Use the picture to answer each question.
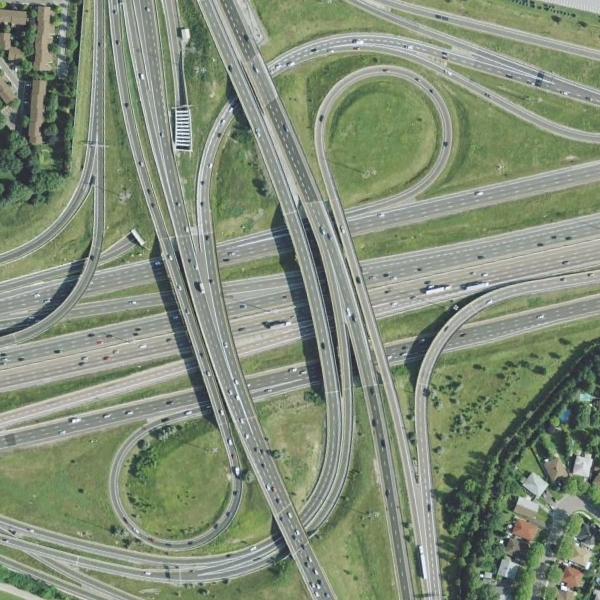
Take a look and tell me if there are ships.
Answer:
No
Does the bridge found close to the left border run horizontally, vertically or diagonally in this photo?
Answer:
diagonally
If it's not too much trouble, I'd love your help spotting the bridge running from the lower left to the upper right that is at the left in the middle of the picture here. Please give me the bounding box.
[12,244,102,345]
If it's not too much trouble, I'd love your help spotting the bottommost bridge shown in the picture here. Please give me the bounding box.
[271,500,312,557]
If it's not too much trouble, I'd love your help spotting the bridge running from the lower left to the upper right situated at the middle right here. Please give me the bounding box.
[417,301,476,384]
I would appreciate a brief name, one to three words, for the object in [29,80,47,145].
house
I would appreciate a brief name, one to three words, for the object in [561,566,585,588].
house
